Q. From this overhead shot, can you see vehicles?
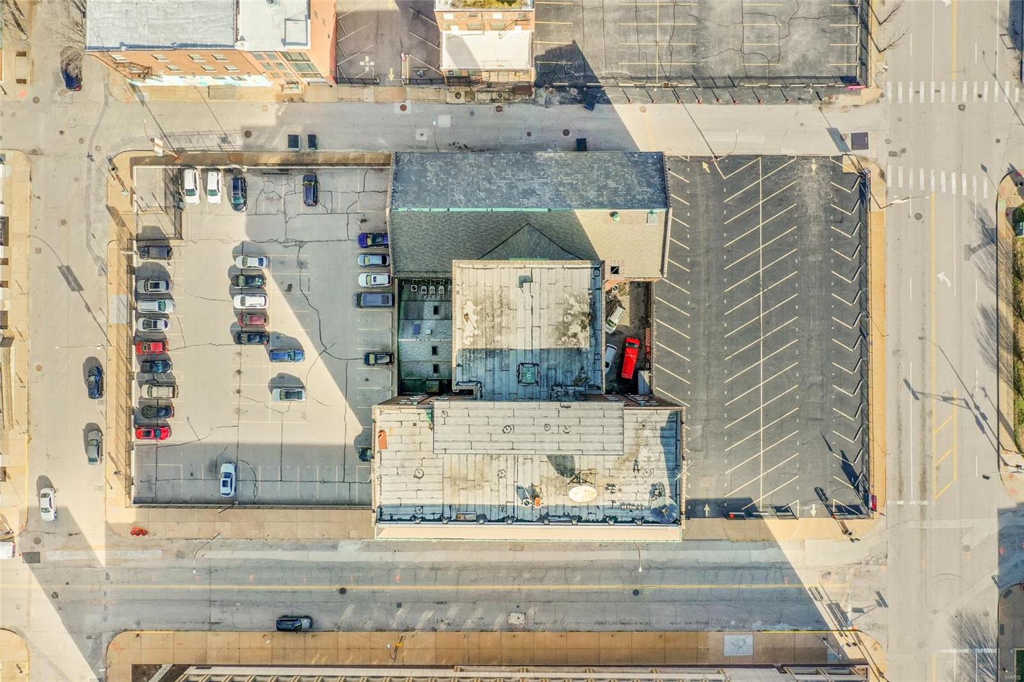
Yes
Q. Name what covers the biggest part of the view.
paved ground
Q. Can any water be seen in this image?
No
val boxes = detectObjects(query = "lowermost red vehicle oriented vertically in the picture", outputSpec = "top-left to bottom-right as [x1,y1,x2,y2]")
[620,337,641,379]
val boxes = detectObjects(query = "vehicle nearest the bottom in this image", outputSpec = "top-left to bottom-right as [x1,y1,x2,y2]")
[277,615,311,632]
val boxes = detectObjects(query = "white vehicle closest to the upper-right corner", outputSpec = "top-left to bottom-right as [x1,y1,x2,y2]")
[604,300,627,333]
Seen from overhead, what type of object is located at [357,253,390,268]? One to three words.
car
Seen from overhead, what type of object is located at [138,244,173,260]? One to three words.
vehicle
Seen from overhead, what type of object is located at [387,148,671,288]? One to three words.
building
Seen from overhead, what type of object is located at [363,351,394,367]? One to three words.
car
